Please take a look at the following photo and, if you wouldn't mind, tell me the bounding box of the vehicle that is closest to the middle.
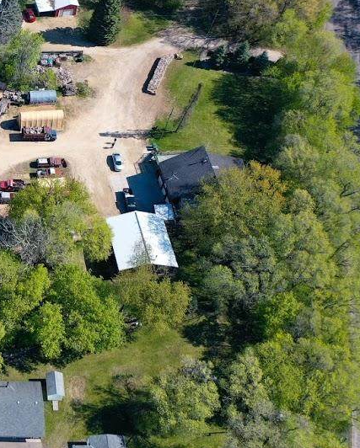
[123,185,135,210]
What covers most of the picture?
trees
